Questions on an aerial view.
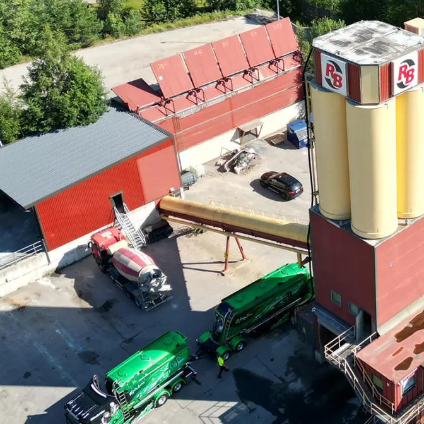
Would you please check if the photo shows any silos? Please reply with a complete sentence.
Yes, the picture does show a silo.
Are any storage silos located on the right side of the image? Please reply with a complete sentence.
Yes, a storage silo can be seen on the right side of the image.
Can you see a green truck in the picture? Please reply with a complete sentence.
Yes, this view includes a green truck.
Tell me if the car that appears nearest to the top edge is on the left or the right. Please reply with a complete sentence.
It is on the right.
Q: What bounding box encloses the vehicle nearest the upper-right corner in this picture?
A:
[258,171,303,201]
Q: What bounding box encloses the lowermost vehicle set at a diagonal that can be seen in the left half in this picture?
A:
[49,317,196,424]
